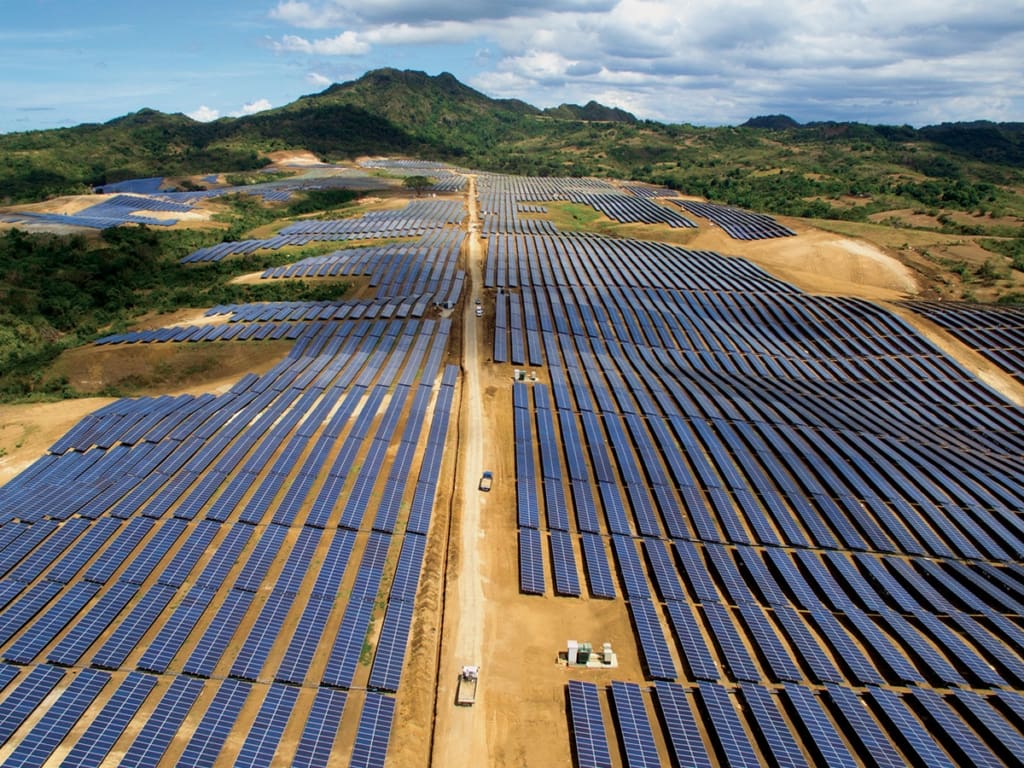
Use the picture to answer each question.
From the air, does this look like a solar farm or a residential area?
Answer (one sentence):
What you see here is a solar farm.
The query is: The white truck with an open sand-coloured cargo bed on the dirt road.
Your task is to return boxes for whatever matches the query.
[458,664,480,705]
